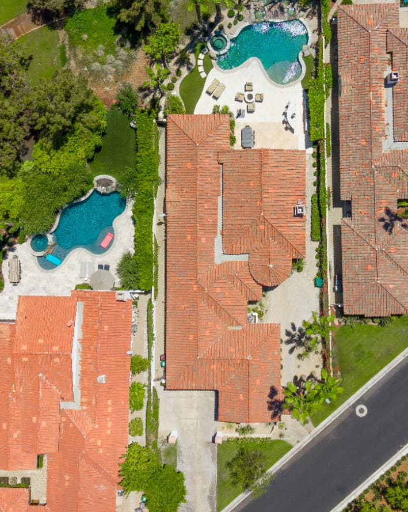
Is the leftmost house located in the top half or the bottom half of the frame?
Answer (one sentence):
The bottom half of the photo is where the leftmost house is.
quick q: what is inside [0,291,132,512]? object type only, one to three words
house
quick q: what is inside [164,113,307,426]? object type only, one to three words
house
